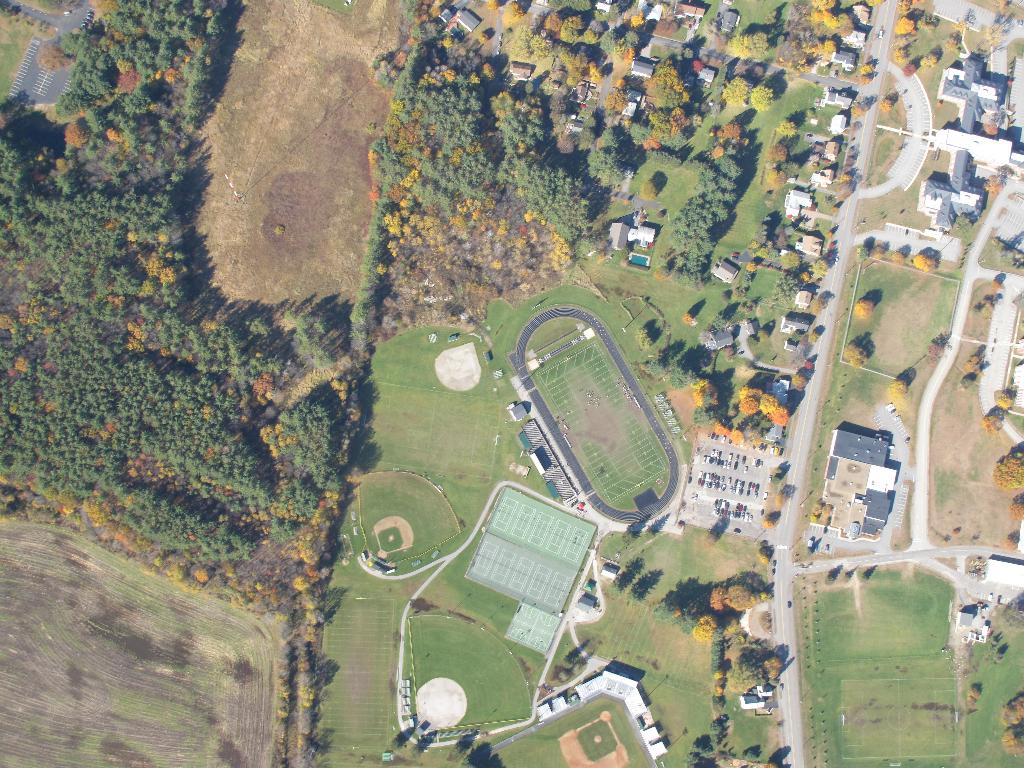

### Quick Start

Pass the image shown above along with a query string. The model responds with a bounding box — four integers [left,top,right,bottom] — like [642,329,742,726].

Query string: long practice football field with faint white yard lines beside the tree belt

[326,593,396,748]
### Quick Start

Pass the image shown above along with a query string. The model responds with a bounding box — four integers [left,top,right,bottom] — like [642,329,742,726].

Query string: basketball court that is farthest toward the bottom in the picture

[506,598,562,655]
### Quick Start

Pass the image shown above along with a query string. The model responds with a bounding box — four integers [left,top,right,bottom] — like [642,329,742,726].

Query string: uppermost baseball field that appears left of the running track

[435,342,481,390]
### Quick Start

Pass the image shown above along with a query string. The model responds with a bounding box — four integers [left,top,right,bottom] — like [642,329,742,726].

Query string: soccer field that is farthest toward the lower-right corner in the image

[835,675,961,762]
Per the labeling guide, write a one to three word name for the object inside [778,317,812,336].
house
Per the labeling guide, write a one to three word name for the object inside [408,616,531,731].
baseball field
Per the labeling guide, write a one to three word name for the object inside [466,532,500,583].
tennis court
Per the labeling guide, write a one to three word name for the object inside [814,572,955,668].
sports field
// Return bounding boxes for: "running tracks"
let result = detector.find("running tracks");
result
[510,308,682,524]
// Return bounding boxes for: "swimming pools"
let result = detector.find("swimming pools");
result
[628,252,651,269]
